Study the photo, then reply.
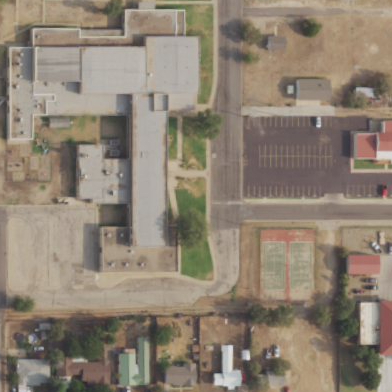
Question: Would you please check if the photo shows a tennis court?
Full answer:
Yes, the picture does show a tennis court.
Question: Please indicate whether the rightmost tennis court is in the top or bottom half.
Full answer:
It is in the bottom half that the rightmost tennis court appears.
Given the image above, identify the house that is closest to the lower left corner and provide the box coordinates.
[16,359,50,392]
